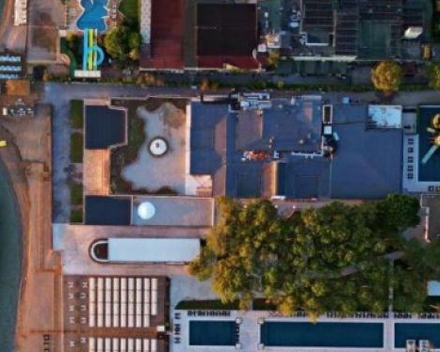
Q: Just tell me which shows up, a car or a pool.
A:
pool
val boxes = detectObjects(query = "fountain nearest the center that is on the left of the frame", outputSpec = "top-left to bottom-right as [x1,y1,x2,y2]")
[147,136,169,157]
